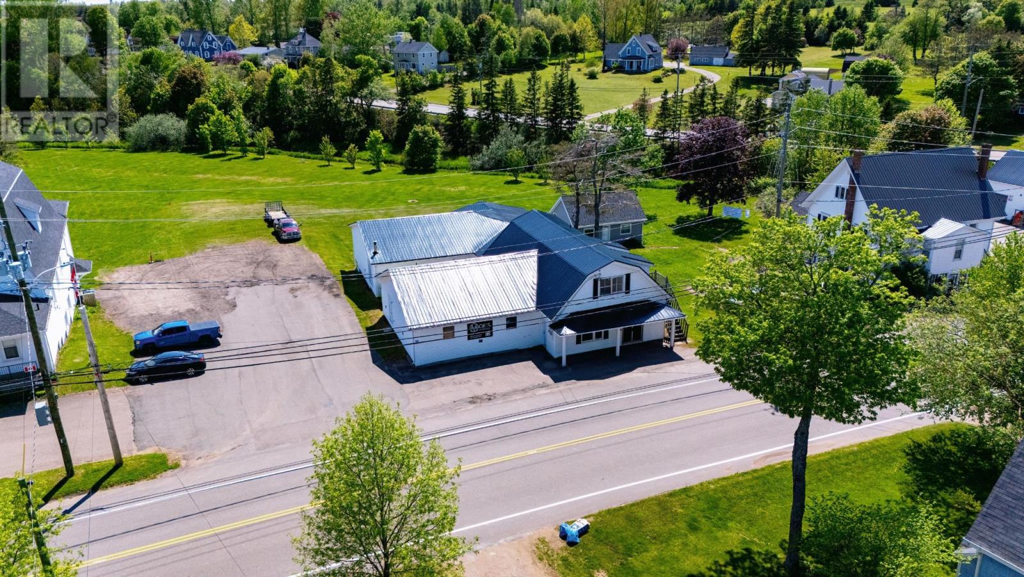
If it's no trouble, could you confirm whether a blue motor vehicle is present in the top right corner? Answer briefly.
No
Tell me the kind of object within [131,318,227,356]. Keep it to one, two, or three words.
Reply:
truck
